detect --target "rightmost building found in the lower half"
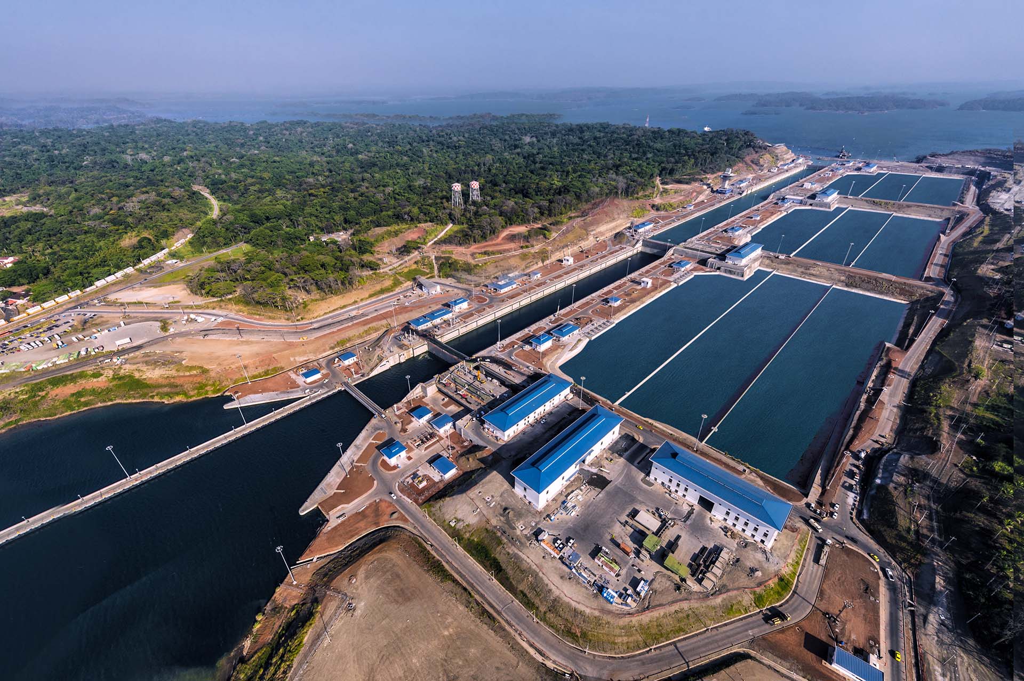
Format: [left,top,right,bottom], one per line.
[821,646,890,681]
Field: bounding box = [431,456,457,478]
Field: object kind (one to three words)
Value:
building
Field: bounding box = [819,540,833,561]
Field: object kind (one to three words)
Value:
vehicle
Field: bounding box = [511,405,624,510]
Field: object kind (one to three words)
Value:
building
